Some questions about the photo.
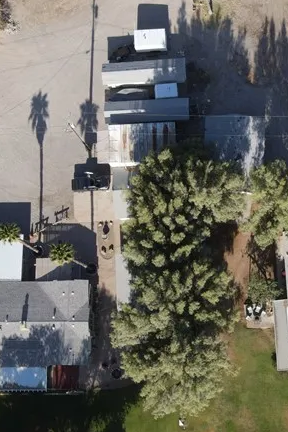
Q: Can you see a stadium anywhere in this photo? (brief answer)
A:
No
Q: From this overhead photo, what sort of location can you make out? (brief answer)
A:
residential area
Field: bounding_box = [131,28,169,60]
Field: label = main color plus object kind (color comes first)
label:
white vehicle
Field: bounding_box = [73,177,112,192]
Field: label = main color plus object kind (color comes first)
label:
black vehicle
